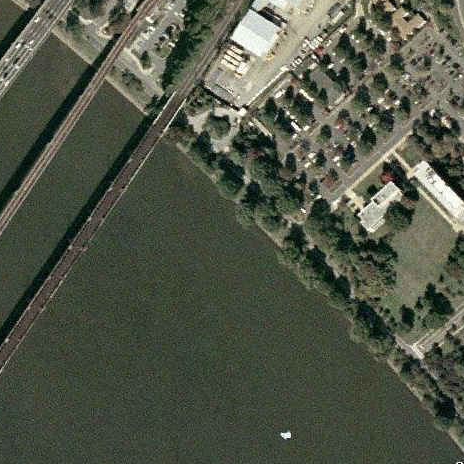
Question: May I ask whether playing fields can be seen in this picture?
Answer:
No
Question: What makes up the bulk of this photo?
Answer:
water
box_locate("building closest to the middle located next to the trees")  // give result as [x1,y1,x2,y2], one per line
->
[355,202,385,233]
